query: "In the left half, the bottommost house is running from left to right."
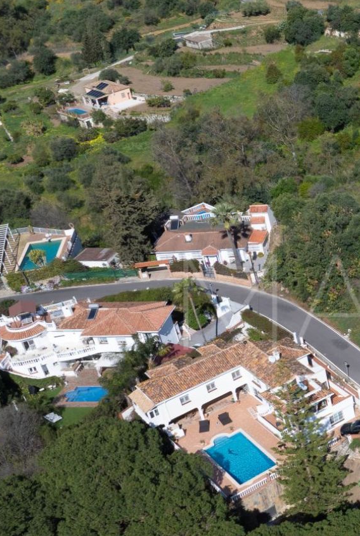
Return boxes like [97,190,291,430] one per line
[0,296,183,381]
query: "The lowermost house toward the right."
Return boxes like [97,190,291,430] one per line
[128,319,355,440]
